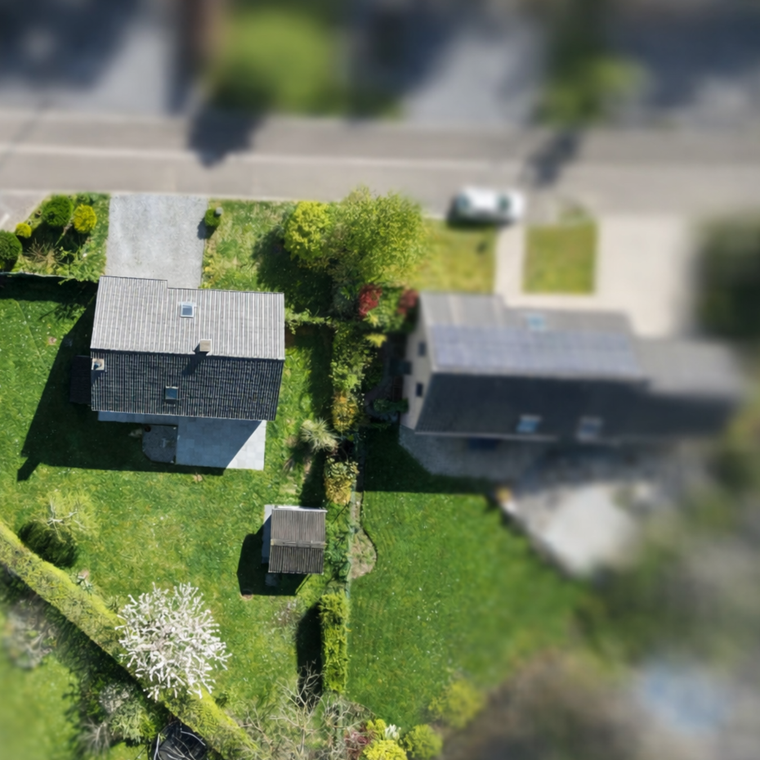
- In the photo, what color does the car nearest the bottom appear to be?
white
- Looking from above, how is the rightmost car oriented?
from side to side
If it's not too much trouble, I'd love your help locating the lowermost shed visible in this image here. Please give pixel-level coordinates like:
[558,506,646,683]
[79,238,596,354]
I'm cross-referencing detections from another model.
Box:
[261,501,330,577]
